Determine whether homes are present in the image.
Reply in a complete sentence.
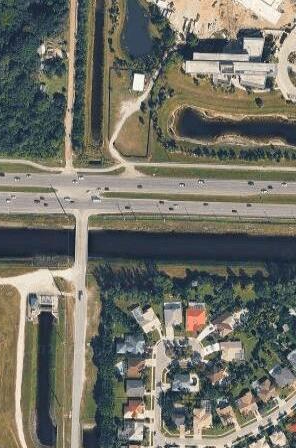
Yes, a home is visible in the scene.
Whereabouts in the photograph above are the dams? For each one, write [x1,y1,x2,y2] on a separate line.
[27,293,58,321]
